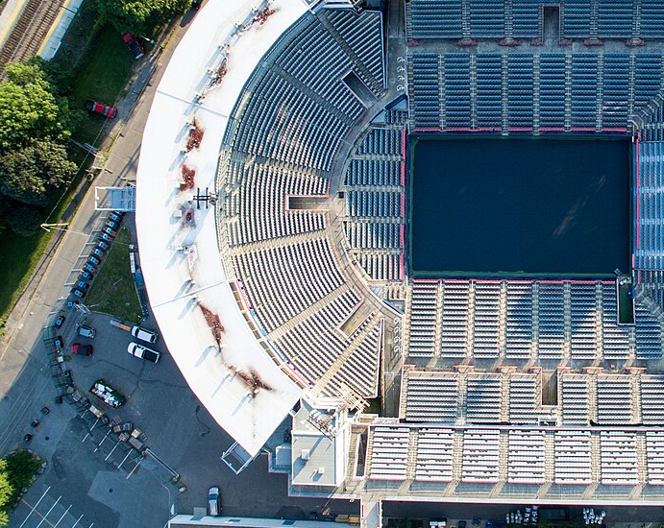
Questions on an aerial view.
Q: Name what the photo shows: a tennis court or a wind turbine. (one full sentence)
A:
Looking from above, you can make out a tennis court.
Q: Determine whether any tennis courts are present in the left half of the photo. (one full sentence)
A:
No, no tennis court is visible in the left half of the photo.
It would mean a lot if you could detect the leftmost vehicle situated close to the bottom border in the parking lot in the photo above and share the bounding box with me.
[205,485,221,517]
